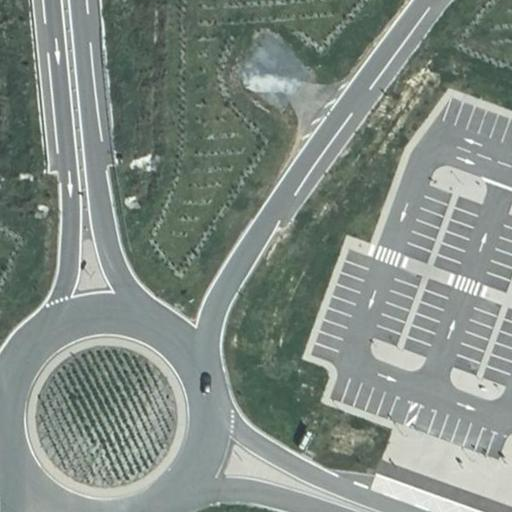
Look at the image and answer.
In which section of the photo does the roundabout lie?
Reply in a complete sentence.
The roundabout appears toward the bottom left of the photo.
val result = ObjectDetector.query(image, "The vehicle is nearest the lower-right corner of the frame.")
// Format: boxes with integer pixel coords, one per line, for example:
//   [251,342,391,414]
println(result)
[298,431,314,452]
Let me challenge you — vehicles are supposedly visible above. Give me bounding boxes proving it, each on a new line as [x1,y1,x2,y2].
[298,431,314,452]
[202,374,212,394]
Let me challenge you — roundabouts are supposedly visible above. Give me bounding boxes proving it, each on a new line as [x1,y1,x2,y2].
[0,294,230,512]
